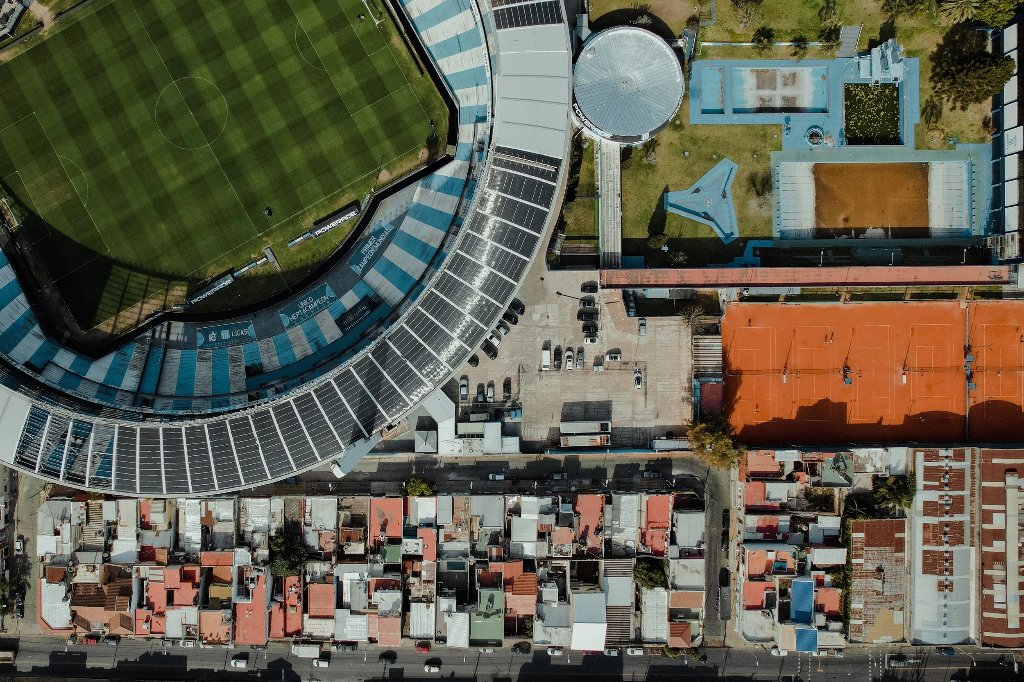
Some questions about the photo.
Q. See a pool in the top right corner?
Yes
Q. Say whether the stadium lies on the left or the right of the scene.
left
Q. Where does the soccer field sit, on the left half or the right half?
left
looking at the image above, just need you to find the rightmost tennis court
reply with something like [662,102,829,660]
[975,323,1024,420]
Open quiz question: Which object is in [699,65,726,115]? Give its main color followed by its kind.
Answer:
blue swimming pool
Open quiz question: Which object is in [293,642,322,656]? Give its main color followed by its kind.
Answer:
white vehicle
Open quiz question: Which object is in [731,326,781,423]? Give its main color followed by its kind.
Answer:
orange tennis court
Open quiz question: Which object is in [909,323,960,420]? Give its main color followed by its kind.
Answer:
orange tennis court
